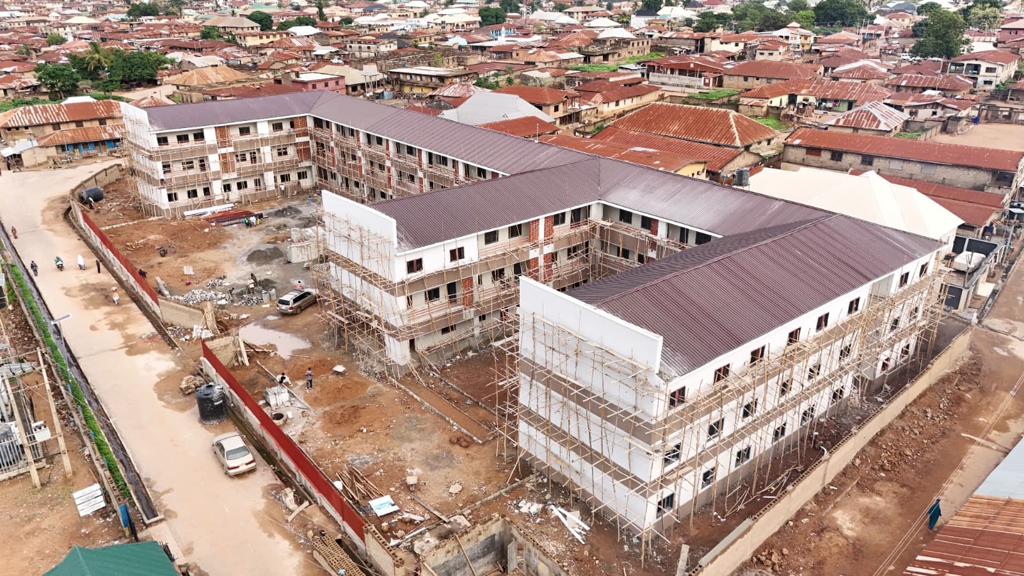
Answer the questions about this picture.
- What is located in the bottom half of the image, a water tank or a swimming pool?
water tank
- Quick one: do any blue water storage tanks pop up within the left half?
No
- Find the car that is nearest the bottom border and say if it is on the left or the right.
left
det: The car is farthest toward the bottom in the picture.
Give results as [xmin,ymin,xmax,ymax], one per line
[209,428,250,474]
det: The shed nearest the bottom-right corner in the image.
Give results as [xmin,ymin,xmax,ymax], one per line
[893,443,1024,576]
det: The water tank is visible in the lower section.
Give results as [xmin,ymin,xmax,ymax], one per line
[193,381,226,425]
